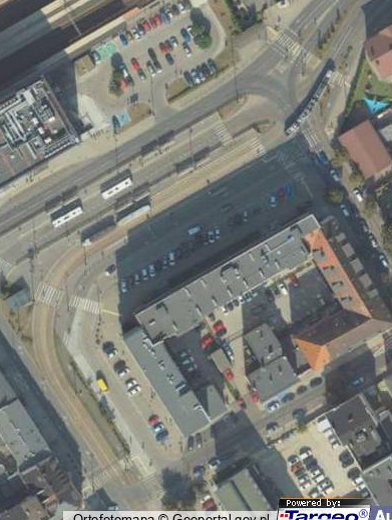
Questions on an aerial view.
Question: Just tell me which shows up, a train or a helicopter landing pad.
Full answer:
I can see a train in this picture.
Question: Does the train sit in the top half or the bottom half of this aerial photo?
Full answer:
The train sits in the top half of the picture.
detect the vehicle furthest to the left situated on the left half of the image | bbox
[53,206,83,226]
